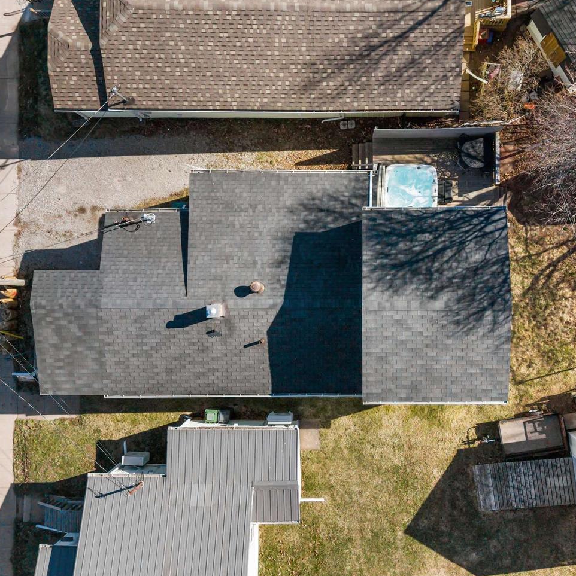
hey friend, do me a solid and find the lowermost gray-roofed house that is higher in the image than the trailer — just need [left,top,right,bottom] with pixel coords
[13,167,514,408]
